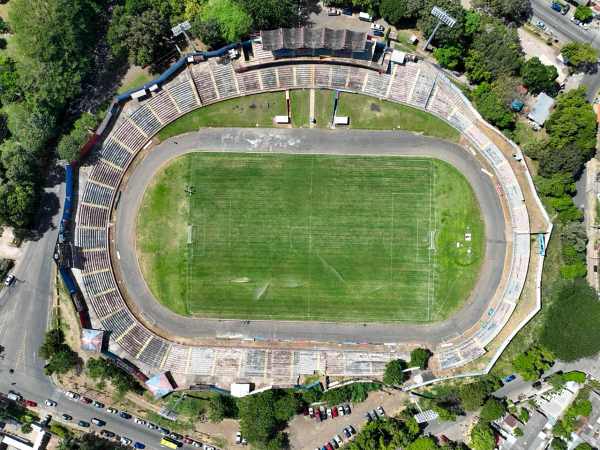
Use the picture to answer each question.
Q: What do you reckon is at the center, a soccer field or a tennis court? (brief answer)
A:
soccer field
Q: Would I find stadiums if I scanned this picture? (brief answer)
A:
Yes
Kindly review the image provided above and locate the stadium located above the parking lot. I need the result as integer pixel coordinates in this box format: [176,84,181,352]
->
[53,25,531,390]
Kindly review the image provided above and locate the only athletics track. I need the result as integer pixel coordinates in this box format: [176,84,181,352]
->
[116,127,507,343]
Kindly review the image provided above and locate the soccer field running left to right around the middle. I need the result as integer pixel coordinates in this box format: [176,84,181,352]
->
[137,152,484,323]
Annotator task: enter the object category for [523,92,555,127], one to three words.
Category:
house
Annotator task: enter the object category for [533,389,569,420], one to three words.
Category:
house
